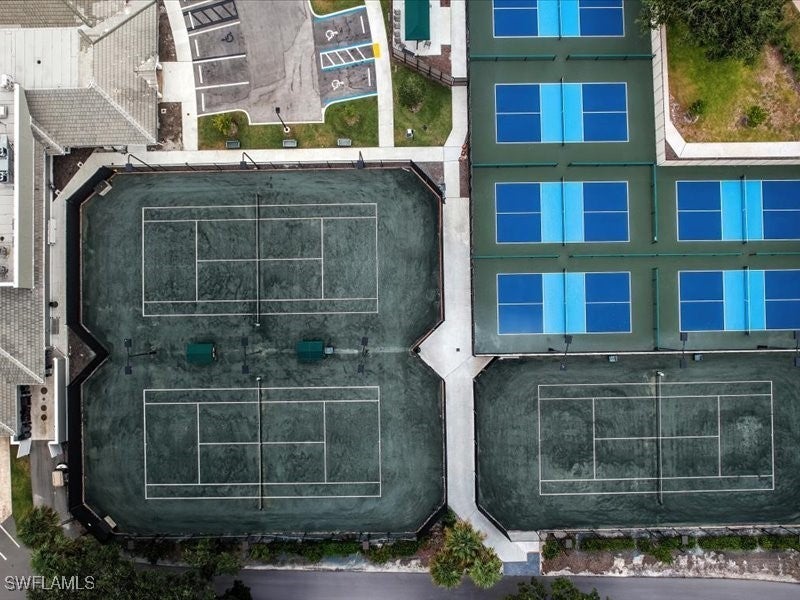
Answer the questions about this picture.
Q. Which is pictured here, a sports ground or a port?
sports ground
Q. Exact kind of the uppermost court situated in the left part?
tennis court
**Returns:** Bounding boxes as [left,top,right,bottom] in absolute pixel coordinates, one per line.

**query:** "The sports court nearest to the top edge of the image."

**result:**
[492,0,625,38]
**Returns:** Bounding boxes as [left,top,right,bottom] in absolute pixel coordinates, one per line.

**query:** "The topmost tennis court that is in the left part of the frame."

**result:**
[80,166,444,352]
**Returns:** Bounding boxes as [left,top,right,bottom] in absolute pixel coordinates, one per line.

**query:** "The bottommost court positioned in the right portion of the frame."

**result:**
[475,348,800,531]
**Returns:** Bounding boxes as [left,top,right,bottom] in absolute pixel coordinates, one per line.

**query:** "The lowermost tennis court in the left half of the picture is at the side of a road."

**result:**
[80,350,447,534]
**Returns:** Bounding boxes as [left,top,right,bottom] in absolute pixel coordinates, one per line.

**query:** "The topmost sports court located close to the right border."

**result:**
[677,180,800,241]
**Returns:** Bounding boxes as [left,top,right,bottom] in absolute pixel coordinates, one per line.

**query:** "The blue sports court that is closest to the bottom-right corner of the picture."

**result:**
[679,270,800,332]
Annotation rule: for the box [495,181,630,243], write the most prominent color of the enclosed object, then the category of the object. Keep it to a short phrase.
blue sports court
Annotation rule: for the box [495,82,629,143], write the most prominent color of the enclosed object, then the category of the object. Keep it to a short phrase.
blue sports court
